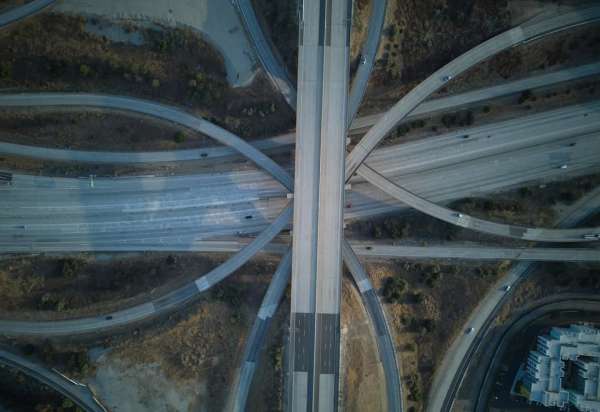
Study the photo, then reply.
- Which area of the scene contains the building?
bottom right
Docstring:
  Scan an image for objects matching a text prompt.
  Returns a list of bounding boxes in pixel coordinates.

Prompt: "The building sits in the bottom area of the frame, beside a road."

[524,325,600,412]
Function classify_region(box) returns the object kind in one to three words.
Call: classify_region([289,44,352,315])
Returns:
bridge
